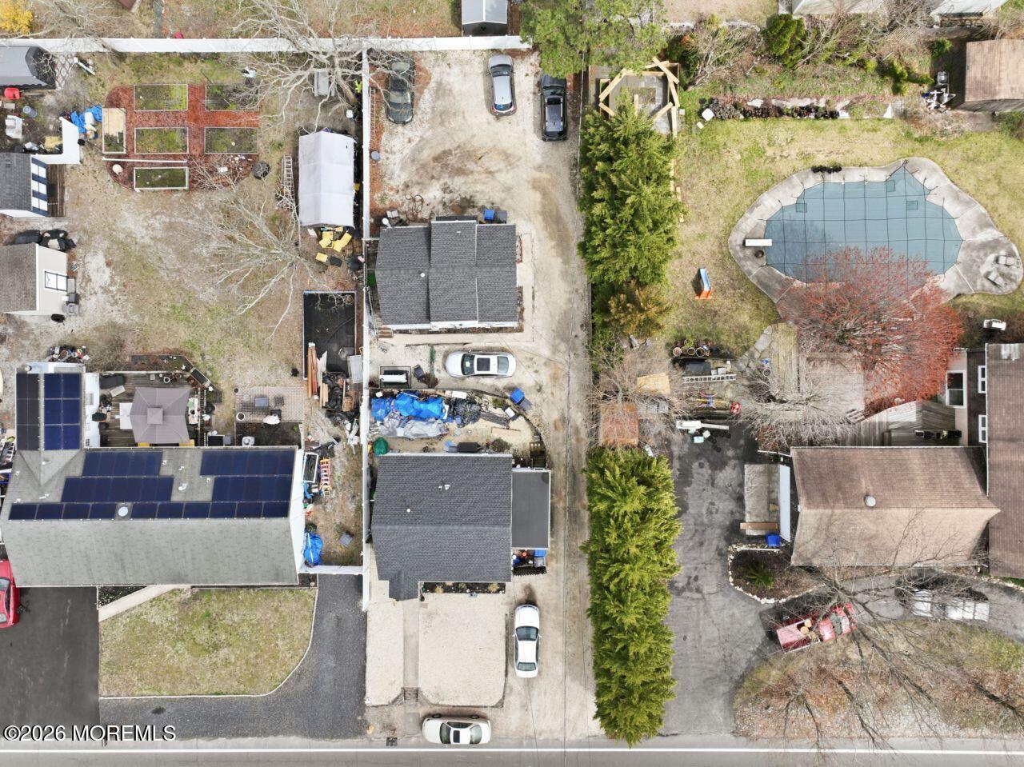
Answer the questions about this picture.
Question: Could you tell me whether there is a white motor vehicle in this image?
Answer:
Yes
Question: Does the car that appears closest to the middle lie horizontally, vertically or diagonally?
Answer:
horizontally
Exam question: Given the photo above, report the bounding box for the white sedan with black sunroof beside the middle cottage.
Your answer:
[446,348,517,381]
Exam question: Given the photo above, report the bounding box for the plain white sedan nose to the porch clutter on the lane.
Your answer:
[510,602,543,676]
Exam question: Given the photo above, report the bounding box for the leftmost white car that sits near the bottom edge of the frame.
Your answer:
[423,710,491,748]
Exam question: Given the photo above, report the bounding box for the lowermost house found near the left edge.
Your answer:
[0,372,304,588]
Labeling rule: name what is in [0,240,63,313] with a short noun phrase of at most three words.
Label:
shed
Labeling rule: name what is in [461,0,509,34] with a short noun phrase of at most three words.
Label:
shed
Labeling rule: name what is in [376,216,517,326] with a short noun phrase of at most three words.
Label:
house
